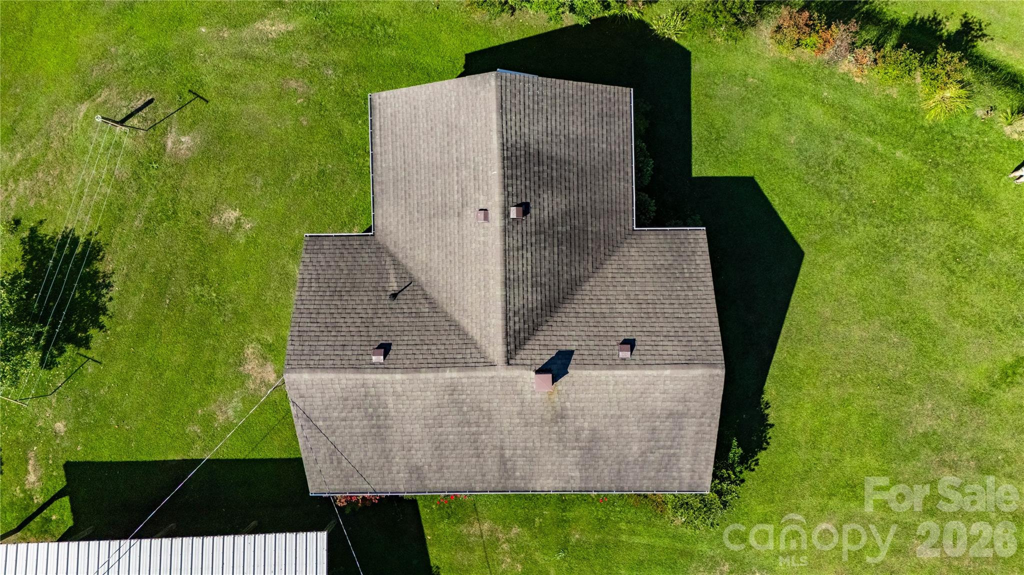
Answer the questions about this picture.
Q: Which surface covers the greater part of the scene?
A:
grass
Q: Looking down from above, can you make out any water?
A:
No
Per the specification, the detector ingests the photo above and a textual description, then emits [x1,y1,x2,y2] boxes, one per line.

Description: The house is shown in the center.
[285,68,725,497]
